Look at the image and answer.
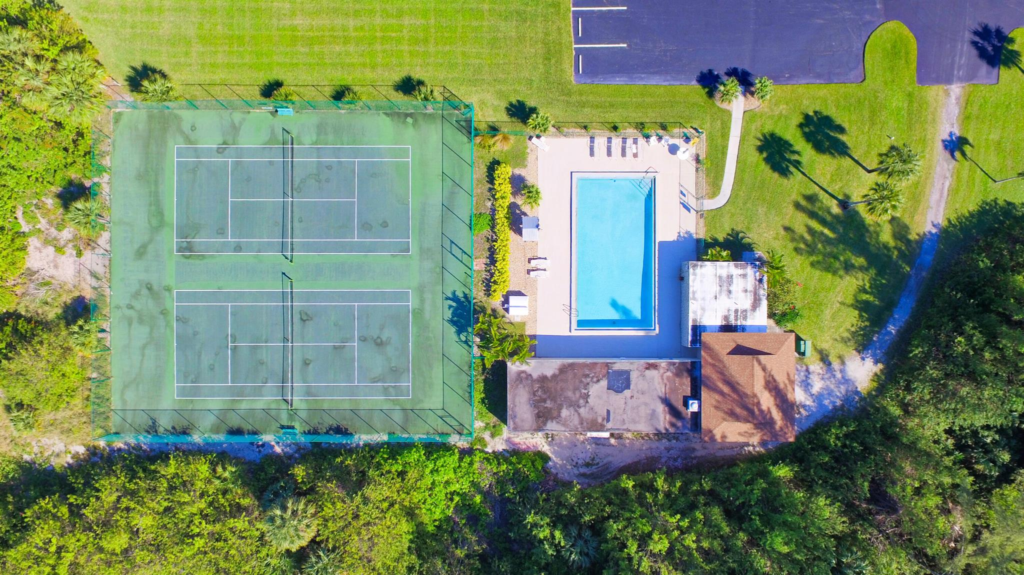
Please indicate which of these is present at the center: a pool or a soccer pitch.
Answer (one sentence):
Visible at the center is a pool.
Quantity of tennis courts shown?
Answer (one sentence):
In total, there are 2 tennis courts in the scene.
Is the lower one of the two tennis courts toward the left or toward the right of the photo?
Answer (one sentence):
The lower one of the two tennis courts appears in the left half of the scene.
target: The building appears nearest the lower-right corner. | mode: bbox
[695,333,796,442]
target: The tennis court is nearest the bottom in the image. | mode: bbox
[174,289,411,399]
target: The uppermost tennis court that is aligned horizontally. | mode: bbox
[174,145,411,254]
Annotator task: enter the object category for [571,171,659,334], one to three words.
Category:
swimming pool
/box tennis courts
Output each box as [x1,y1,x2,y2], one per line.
[174,145,411,254]
[174,289,411,399]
